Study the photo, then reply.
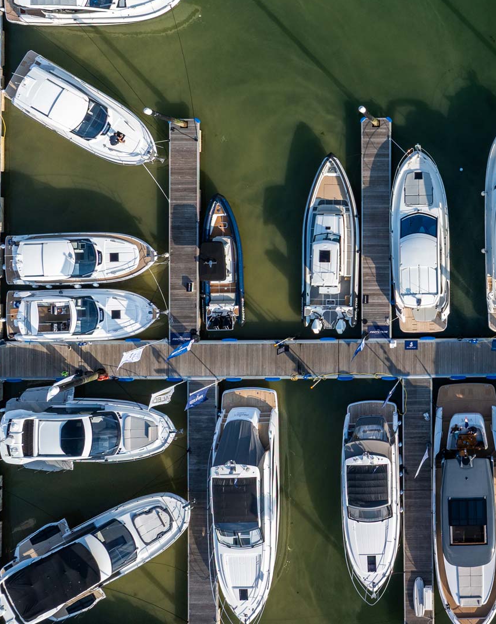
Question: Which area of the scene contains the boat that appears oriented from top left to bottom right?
top left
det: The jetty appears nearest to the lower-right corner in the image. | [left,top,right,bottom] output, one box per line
[404,377,435,624]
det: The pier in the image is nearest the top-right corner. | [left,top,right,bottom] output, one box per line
[360,115,394,339]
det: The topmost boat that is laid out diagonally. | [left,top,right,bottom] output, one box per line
[6,51,165,165]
